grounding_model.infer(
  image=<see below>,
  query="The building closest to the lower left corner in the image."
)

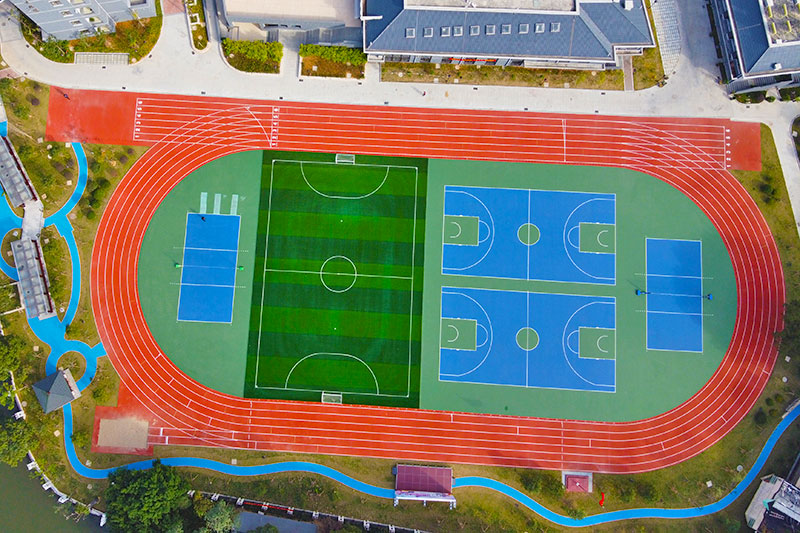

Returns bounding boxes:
[32,368,81,414]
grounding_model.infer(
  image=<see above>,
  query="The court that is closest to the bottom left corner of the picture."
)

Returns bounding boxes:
[170,210,249,323]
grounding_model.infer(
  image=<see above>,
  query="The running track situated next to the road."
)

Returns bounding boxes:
[45,85,788,474]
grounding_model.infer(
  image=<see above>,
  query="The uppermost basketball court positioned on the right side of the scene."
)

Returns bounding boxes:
[441,185,616,285]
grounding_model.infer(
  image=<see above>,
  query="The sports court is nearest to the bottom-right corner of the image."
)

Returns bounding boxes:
[635,235,714,352]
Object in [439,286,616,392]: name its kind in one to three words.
basketball court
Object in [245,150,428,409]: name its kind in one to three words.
soccer field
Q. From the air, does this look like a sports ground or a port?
sports ground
